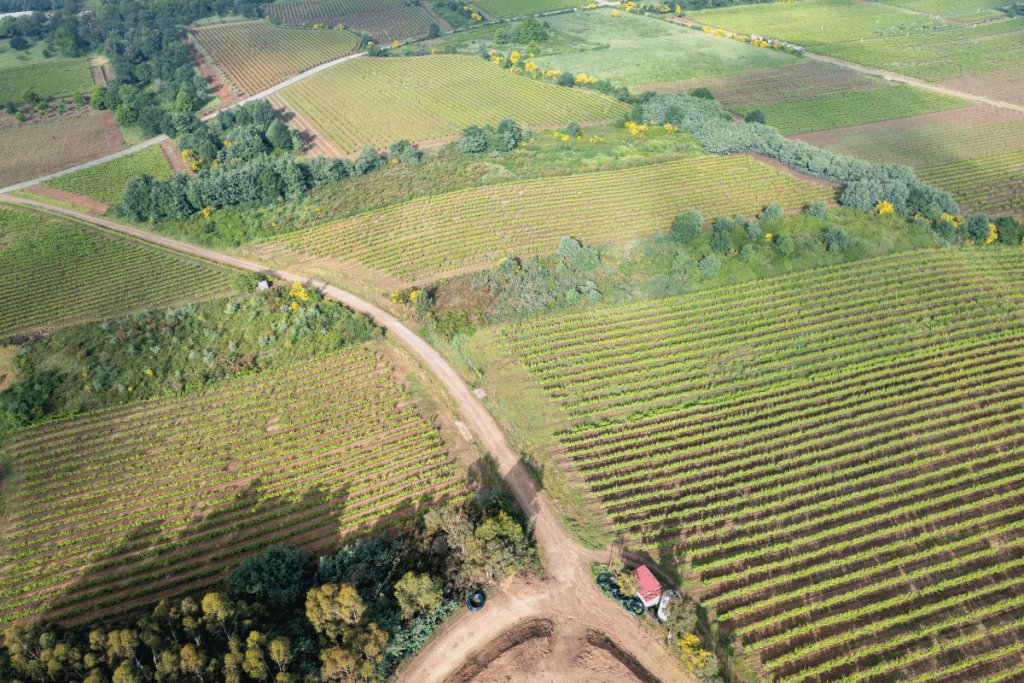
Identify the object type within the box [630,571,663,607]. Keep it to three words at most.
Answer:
shed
